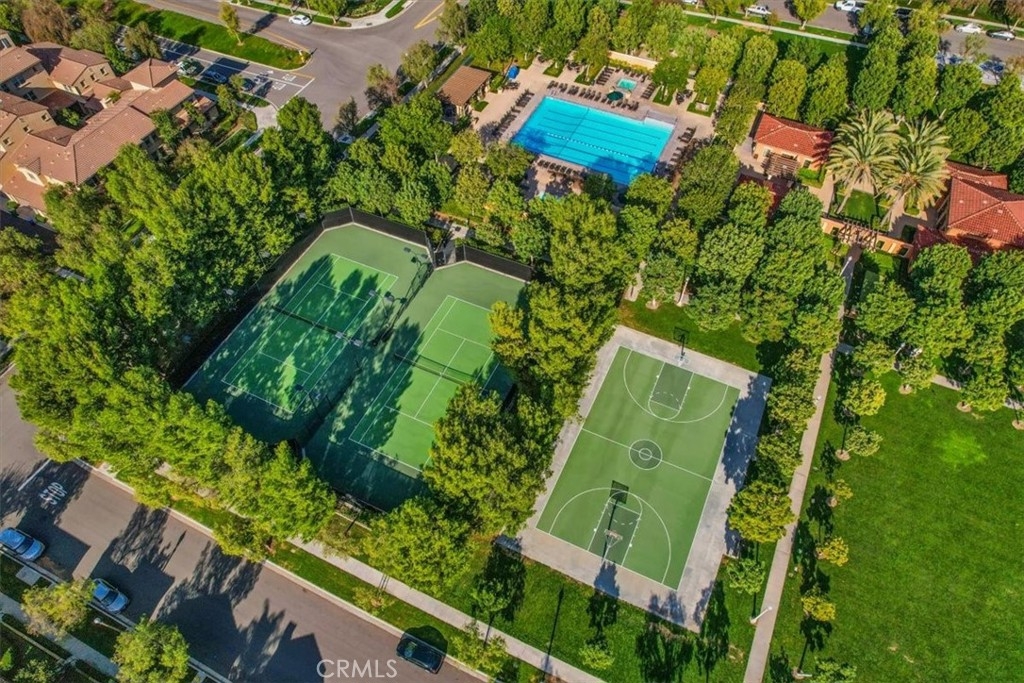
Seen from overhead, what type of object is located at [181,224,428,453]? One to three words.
tennis court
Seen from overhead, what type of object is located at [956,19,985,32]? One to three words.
vehicle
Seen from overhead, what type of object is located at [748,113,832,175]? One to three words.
building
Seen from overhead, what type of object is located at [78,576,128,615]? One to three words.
car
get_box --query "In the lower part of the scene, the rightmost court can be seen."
[510,325,772,639]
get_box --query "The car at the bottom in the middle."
[390,635,443,678]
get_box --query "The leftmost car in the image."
[0,525,38,560]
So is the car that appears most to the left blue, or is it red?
blue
